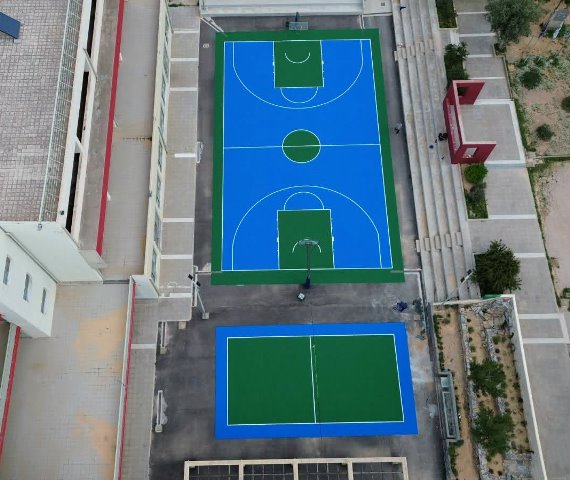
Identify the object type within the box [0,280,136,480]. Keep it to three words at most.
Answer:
building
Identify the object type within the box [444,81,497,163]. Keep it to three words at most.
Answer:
building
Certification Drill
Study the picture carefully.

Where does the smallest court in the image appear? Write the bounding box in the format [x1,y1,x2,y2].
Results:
[215,322,418,439]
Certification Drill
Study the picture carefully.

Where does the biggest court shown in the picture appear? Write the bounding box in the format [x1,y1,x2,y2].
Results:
[211,28,405,285]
